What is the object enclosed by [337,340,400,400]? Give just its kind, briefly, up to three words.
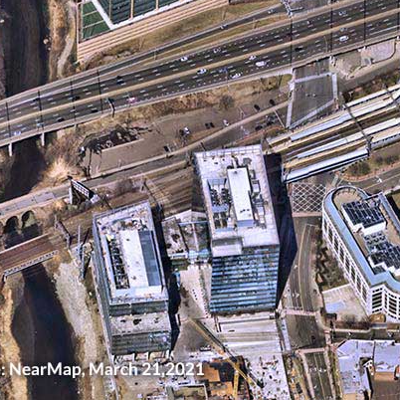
building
